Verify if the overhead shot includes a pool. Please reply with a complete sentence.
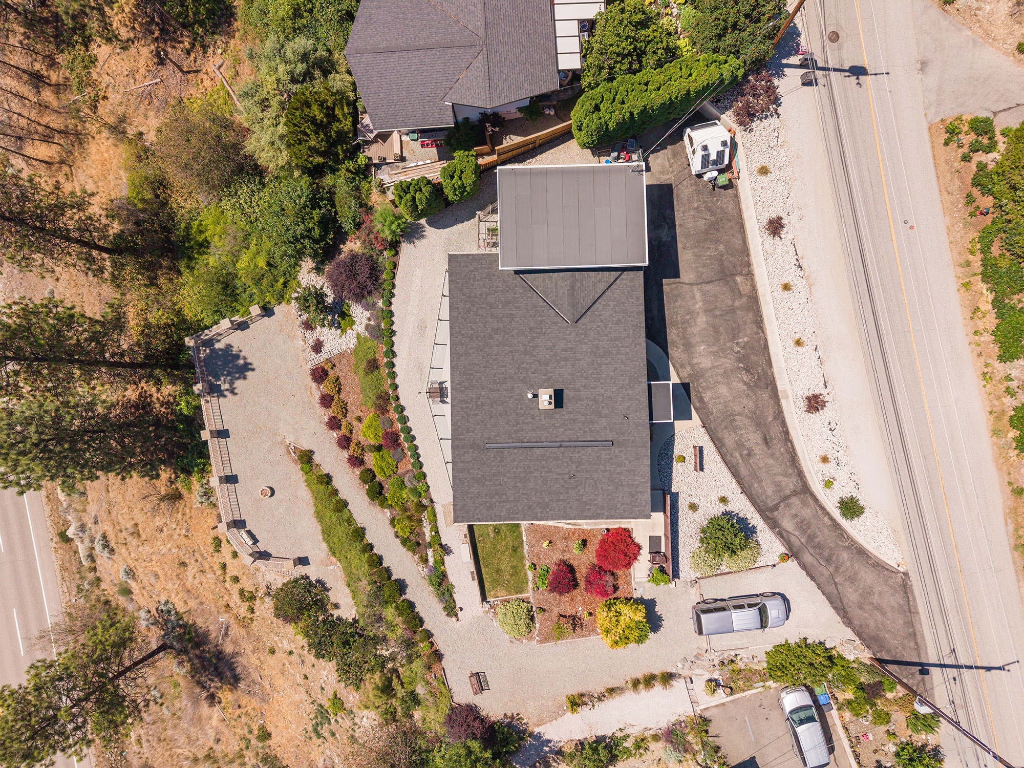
No, no pool is visible in the scene.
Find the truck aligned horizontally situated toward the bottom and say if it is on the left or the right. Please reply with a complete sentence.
It is on the right.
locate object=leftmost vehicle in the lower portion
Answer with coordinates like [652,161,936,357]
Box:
[684,591,789,638]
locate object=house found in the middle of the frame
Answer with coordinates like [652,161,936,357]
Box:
[447,161,675,525]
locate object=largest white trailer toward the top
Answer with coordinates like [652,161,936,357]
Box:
[684,124,732,195]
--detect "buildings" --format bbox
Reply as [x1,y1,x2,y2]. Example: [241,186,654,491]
[345,0,560,139]
[447,161,675,525]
